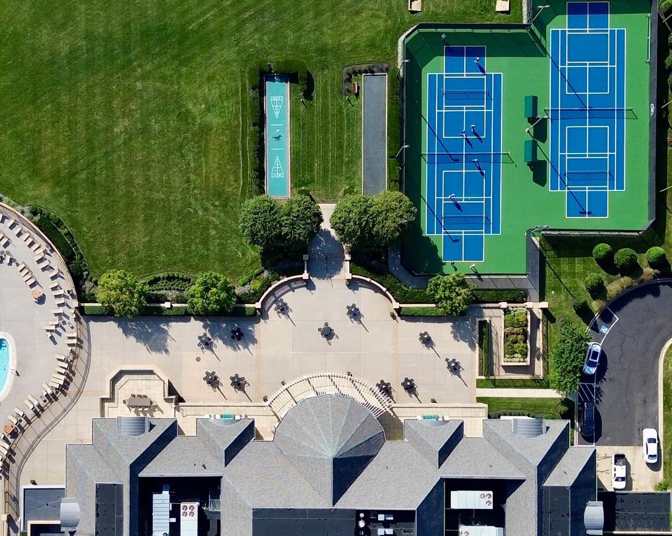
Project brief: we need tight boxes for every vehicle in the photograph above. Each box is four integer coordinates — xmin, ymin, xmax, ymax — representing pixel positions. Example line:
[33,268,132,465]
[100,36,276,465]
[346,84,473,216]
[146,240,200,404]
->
[611,453,627,490]
[582,342,602,376]
[578,401,595,436]
[642,429,659,464]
